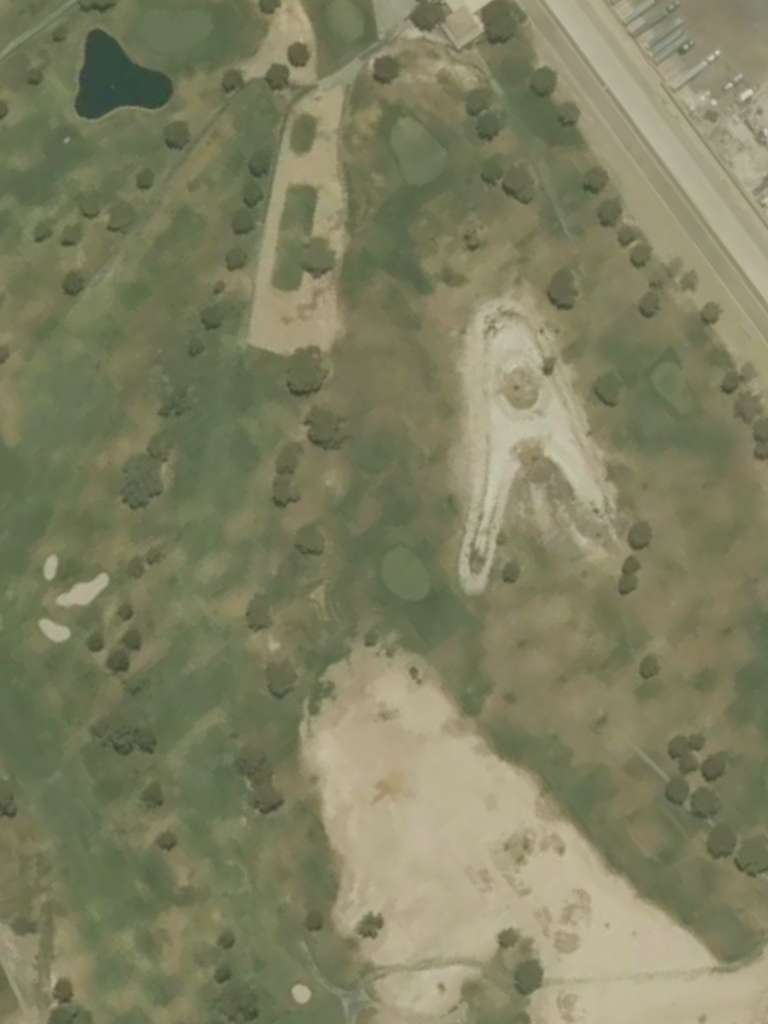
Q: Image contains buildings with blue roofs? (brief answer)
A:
No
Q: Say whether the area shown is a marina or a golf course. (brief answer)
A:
golf course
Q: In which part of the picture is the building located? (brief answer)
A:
top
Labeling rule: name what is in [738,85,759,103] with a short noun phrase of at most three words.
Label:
vehicle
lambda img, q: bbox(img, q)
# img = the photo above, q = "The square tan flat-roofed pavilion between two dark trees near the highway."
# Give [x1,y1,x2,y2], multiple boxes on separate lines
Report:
[441,4,485,49]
